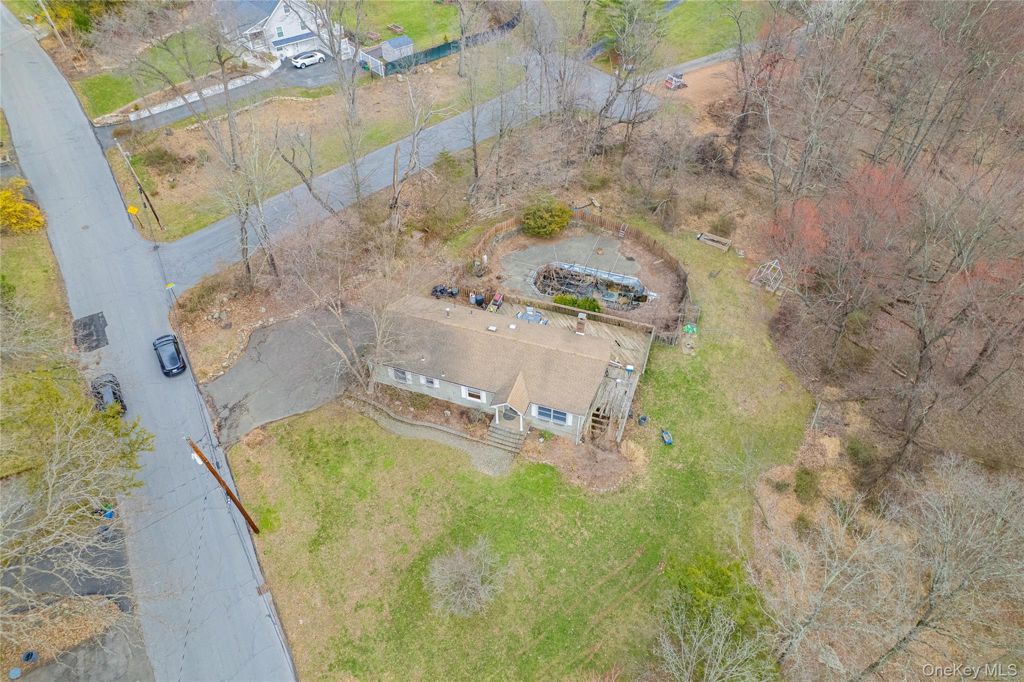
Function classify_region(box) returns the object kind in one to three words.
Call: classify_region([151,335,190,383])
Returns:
car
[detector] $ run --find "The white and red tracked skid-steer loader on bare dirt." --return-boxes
[667,69,691,90]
